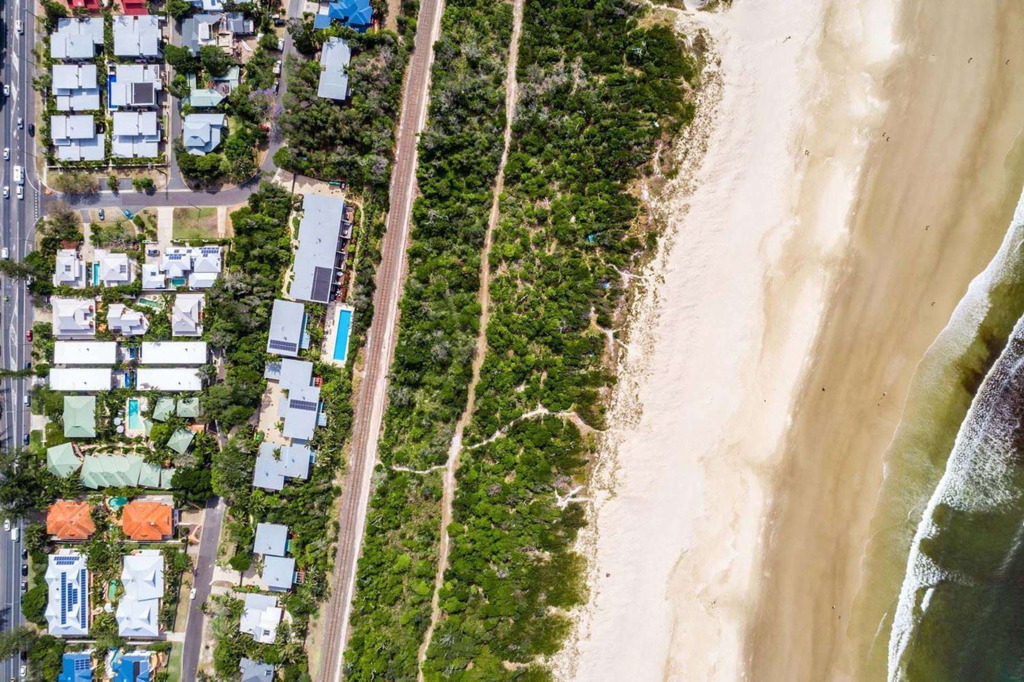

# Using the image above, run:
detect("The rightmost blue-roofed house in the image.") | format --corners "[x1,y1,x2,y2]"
[315,0,372,32]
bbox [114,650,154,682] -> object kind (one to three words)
house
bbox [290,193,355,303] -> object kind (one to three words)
building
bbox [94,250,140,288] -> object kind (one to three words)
house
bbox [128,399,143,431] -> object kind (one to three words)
swimming pool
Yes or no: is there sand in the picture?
Yes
